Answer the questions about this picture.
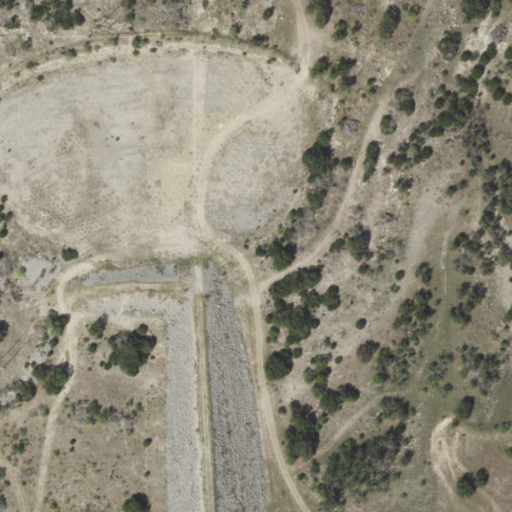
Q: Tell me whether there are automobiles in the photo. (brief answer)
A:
No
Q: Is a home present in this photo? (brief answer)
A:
No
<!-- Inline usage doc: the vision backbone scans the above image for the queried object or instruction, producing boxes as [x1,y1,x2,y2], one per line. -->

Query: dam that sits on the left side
[68,261,266,512]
